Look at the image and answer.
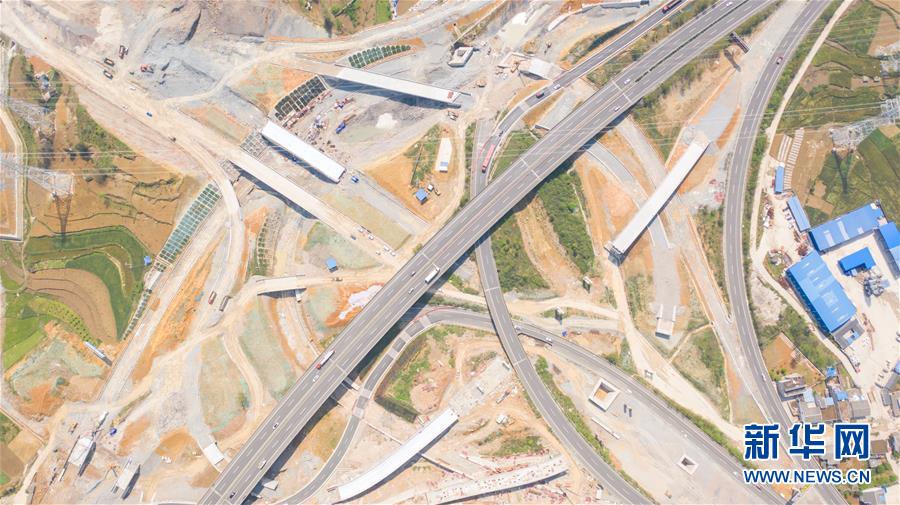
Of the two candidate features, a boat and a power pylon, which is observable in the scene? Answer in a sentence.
Of the two, only a power pylon appears.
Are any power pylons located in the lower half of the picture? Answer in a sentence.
No, I see no power pylon in the lower half of the picture.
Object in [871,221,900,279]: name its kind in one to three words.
building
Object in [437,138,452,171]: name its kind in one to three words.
building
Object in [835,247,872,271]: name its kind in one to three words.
shed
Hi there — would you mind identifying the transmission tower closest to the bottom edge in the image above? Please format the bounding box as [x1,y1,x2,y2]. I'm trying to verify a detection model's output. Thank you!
[0,150,74,194]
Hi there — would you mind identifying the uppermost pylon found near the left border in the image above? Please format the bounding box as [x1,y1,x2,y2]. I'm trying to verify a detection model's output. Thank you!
[0,78,56,126]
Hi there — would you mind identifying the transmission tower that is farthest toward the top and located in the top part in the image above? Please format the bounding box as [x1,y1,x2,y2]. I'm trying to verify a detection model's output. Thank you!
[874,41,900,69]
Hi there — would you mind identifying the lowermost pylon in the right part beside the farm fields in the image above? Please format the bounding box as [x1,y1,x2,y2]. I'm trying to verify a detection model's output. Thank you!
[831,101,900,149]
